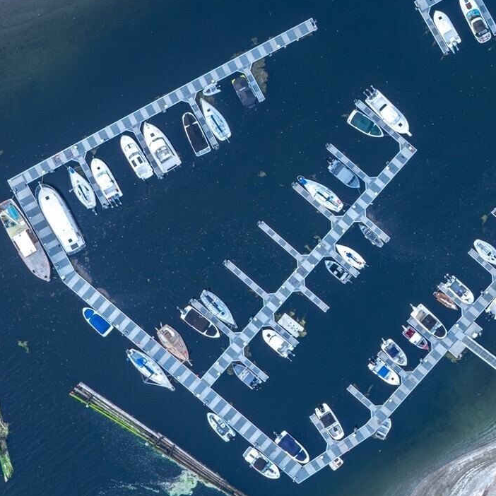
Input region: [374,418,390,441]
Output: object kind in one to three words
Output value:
boat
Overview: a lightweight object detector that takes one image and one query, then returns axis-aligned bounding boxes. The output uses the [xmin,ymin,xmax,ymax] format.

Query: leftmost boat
[0,197,49,281]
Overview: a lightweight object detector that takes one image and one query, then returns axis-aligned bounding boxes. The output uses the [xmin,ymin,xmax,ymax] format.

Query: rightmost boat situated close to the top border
[461,0,492,44]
